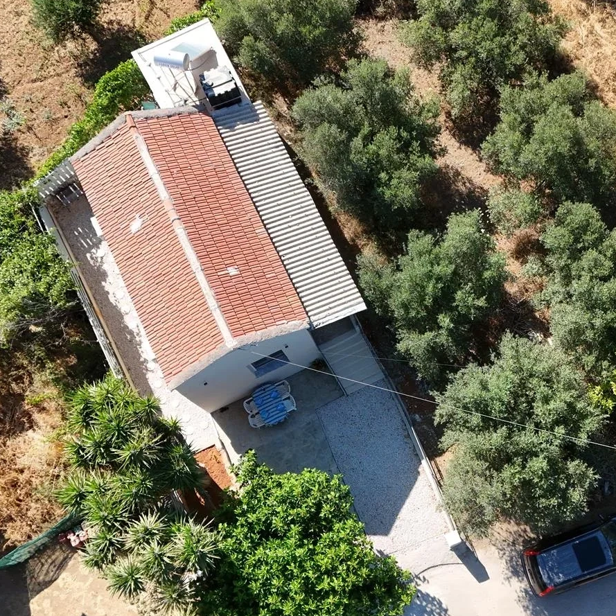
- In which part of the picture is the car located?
bottom right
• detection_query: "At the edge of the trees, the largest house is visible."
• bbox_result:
[80,100,383,412]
